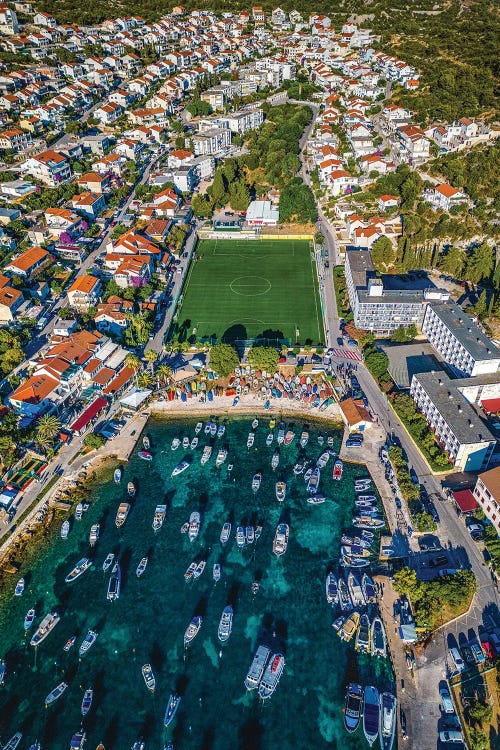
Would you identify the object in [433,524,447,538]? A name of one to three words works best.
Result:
car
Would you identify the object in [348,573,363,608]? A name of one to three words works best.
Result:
boat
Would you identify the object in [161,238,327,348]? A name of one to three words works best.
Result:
soccer field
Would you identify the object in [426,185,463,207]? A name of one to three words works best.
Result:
house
